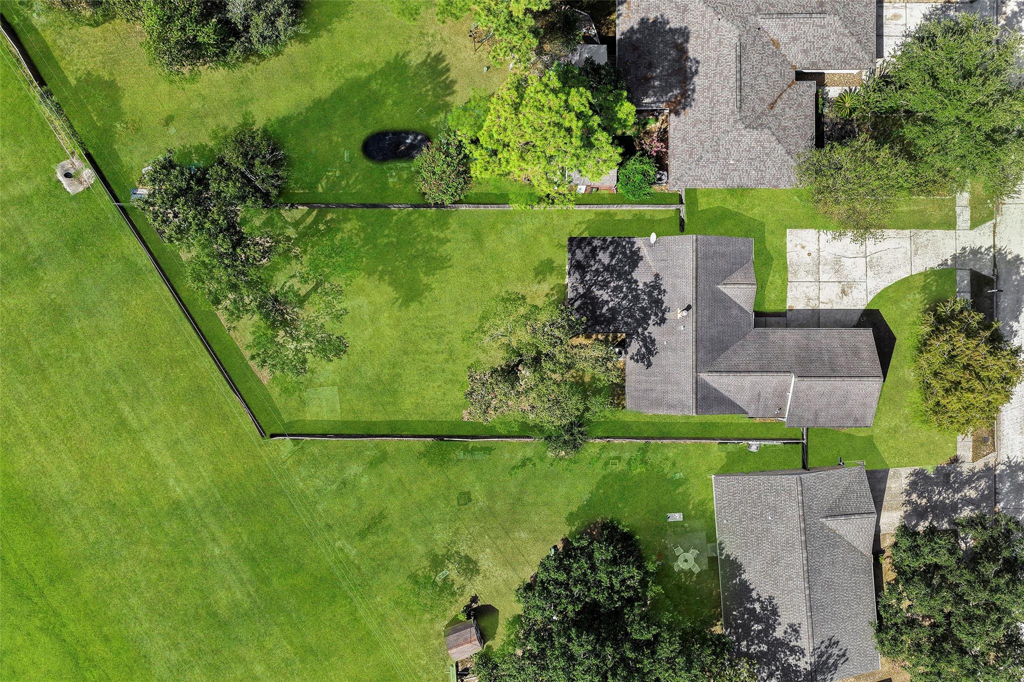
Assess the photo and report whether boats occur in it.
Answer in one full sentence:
No, there appears to be no boat in this shot.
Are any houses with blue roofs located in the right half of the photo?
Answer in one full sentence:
No, in the right half of the photo there is no house with a blue roof.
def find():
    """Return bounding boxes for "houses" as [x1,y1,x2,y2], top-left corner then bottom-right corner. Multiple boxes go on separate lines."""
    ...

[707,462,882,682]
[567,233,884,429]
[614,0,878,192]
